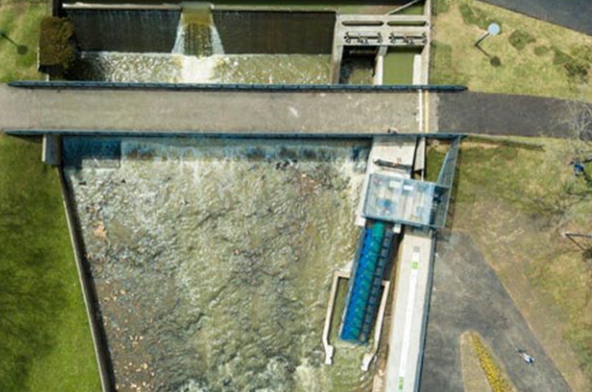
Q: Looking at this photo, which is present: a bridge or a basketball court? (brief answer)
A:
bridge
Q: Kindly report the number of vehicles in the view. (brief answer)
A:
0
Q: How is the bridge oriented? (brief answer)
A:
from side to side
